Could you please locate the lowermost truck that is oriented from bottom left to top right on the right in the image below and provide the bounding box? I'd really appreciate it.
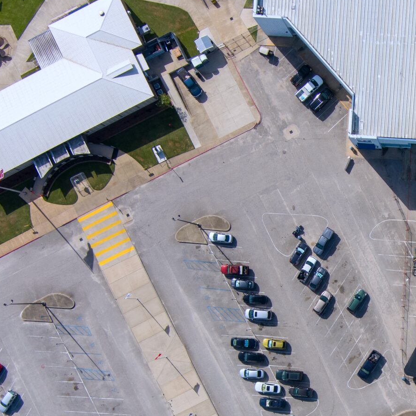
[358,348,383,380]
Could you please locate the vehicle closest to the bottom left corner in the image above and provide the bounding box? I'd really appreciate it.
[0,389,20,415]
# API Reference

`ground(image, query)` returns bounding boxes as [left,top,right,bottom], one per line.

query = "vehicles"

[260,397,287,410]
[289,387,315,399]
[254,382,281,394]
[276,369,305,382]
[358,348,383,380]
[242,294,269,305]
[310,86,332,115]
[239,352,266,364]
[207,232,234,244]
[263,338,288,350]
[295,254,320,287]
[240,368,266,380]
[288,241,309,267]
[246,309,272,322]
[346,289,368,315]
[230,278,256,290]
[178,68,203,99]
[297,72,323,105]
[308,266,329,291]
[0,389,20,415]
[219,263,253,277]
[290,63,311,90]
[313,224,338,256]
[311,289,333,316]
[231,338,258,350]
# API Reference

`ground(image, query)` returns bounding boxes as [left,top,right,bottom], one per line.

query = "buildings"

[195,35,217,54]
[0,0,156,198]
[253,0,416,151]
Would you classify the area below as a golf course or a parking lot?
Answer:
parking lot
